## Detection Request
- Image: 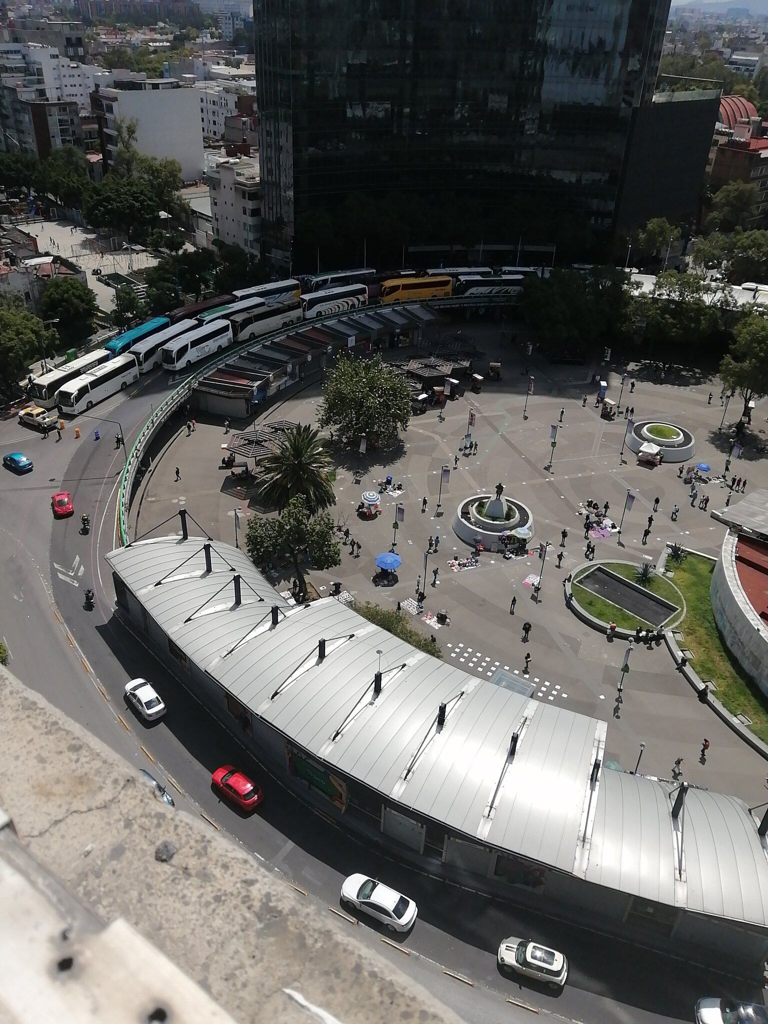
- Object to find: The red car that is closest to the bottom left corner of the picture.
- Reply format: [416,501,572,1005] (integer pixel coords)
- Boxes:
[206,767,266,816]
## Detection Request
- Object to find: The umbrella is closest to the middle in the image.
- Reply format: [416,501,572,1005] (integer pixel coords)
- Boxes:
[361,494,382,506]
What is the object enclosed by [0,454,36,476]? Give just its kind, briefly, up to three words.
car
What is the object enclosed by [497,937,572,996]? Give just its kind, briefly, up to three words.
car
